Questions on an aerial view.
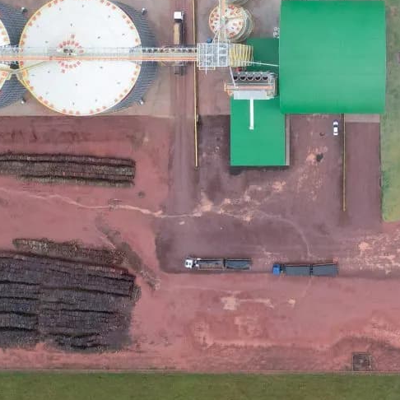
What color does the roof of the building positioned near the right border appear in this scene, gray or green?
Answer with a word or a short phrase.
green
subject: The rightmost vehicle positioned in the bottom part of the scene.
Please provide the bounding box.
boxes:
[272,261,338,276]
